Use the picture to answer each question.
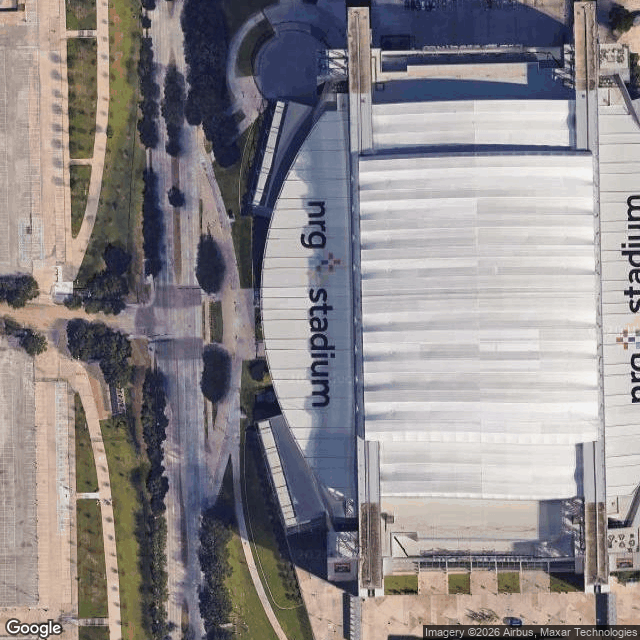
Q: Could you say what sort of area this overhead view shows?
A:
sports ground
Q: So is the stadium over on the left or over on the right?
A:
right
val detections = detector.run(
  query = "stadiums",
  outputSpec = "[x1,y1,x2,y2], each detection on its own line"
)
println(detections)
[252,2,640,598]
